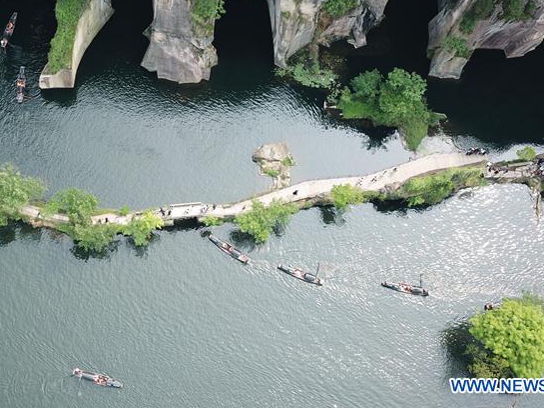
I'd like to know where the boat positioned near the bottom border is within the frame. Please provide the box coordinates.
[71,368,123,392]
